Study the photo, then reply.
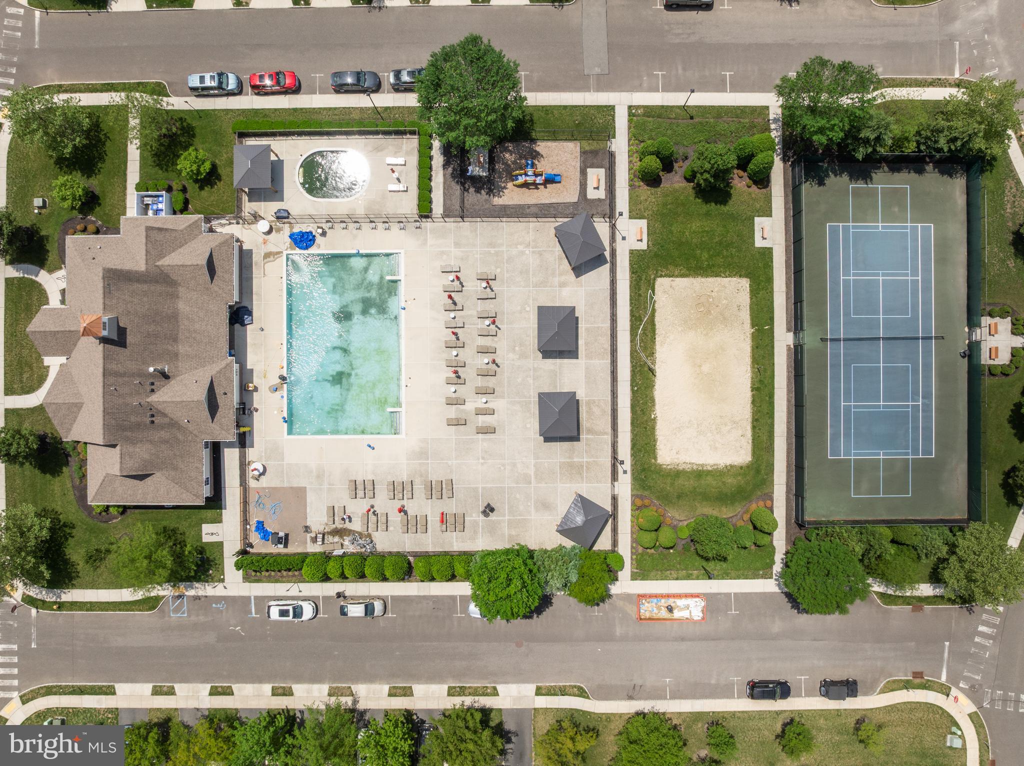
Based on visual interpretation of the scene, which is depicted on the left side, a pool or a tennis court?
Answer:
pool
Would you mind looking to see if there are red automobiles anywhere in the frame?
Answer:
Yes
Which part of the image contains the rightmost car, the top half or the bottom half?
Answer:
bottom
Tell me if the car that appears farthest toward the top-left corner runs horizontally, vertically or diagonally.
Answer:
horizontally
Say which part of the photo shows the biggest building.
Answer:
left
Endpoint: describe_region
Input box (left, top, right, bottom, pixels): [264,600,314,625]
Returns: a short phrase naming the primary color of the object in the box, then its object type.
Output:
white car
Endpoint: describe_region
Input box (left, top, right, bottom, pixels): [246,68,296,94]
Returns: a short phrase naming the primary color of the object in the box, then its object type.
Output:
red car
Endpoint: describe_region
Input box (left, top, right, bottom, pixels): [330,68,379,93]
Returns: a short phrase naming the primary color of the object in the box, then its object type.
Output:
gray car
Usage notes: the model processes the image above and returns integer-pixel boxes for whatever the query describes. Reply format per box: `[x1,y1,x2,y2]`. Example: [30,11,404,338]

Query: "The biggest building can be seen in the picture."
[26,214,243,505]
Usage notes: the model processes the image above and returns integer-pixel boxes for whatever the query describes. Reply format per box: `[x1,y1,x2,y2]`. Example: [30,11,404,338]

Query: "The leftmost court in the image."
[655,277,752,468]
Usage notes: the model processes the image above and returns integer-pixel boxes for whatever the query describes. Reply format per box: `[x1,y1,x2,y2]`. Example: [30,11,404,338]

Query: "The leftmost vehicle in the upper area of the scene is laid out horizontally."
[184,69,239,95]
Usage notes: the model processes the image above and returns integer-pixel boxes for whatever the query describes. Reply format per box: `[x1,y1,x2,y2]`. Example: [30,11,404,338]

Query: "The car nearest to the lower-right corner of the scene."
[823,680,862,704]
